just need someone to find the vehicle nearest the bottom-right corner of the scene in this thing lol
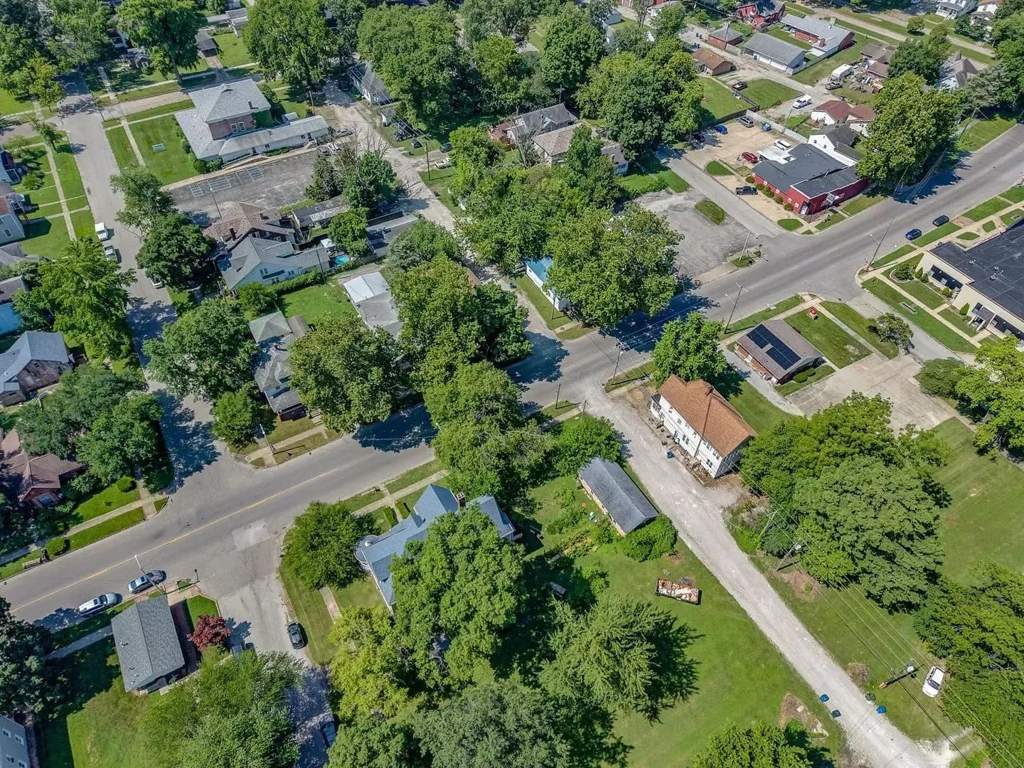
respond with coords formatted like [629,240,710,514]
[917,660,949,699]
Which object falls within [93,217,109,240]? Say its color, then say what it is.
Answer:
white vehicle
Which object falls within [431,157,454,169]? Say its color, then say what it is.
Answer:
white vehicle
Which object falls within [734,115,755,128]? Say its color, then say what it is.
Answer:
gray vehicle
